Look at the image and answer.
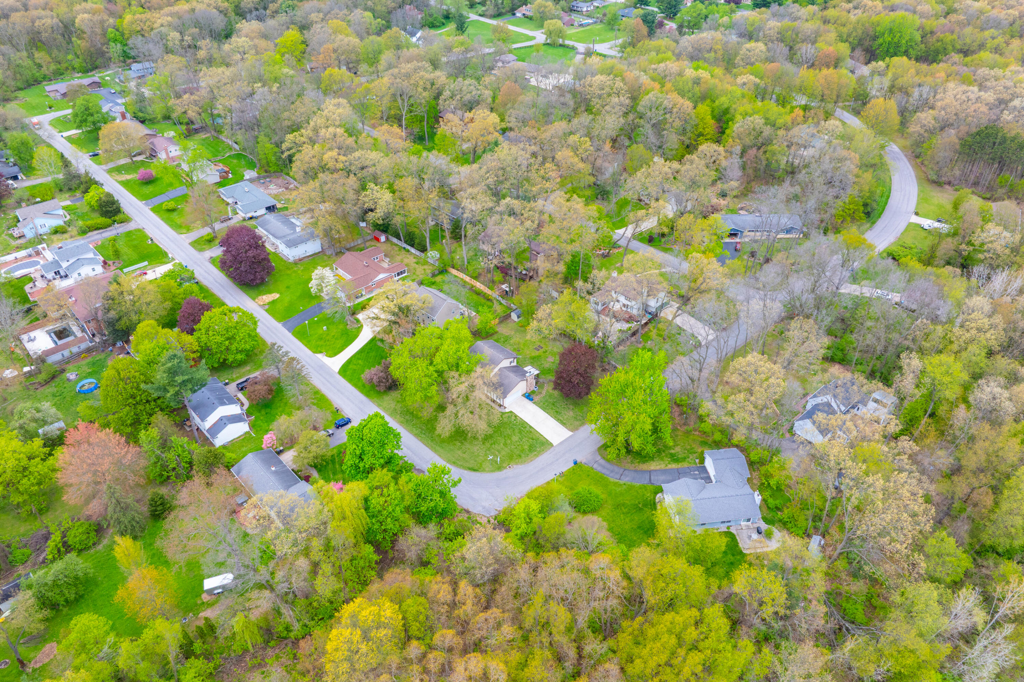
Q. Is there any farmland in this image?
No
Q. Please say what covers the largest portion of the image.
trees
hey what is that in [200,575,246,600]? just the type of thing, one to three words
trailer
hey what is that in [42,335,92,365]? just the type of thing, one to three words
building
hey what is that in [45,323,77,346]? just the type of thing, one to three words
swimming pool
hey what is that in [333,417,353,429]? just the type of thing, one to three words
vehicle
